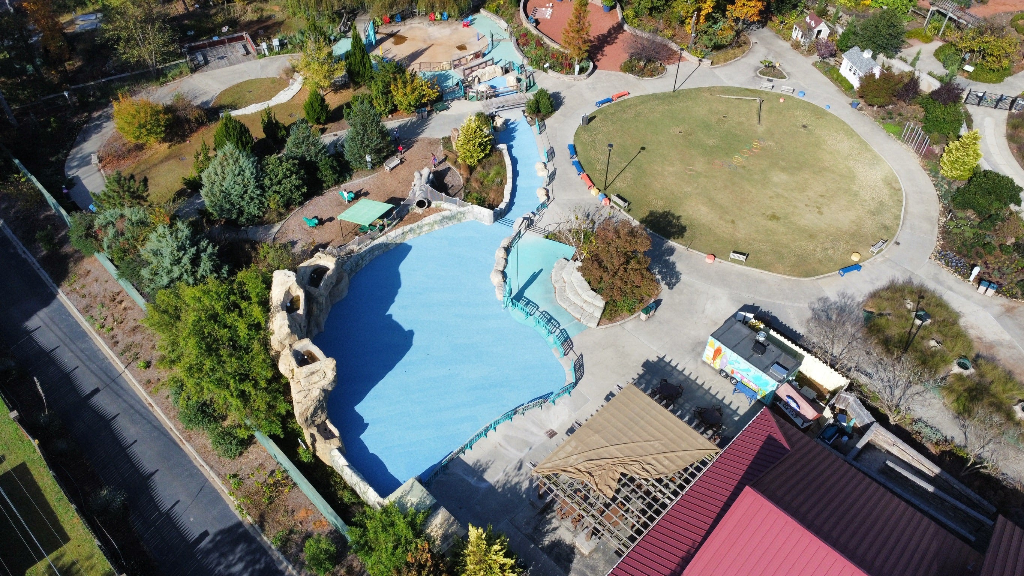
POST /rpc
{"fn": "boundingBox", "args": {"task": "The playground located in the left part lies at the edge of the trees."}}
[275,135,462,255]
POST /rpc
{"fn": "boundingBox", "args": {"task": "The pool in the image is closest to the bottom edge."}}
[317,113,567,496]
